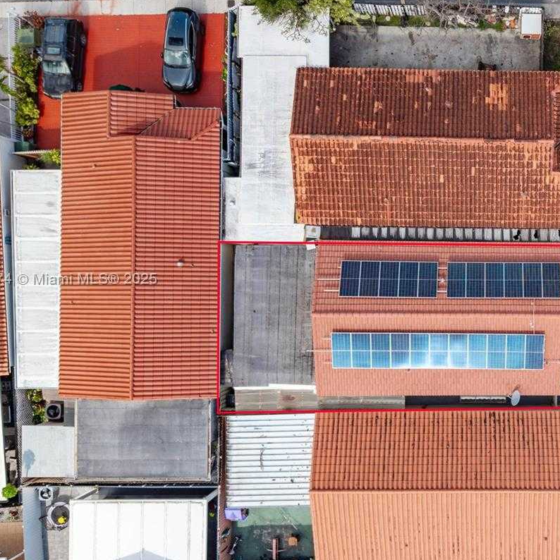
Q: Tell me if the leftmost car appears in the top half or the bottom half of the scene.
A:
top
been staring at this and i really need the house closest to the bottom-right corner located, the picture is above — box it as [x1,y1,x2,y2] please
[313,409,560,560]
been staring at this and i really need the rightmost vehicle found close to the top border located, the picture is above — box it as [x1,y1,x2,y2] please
[160,8,206,94]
